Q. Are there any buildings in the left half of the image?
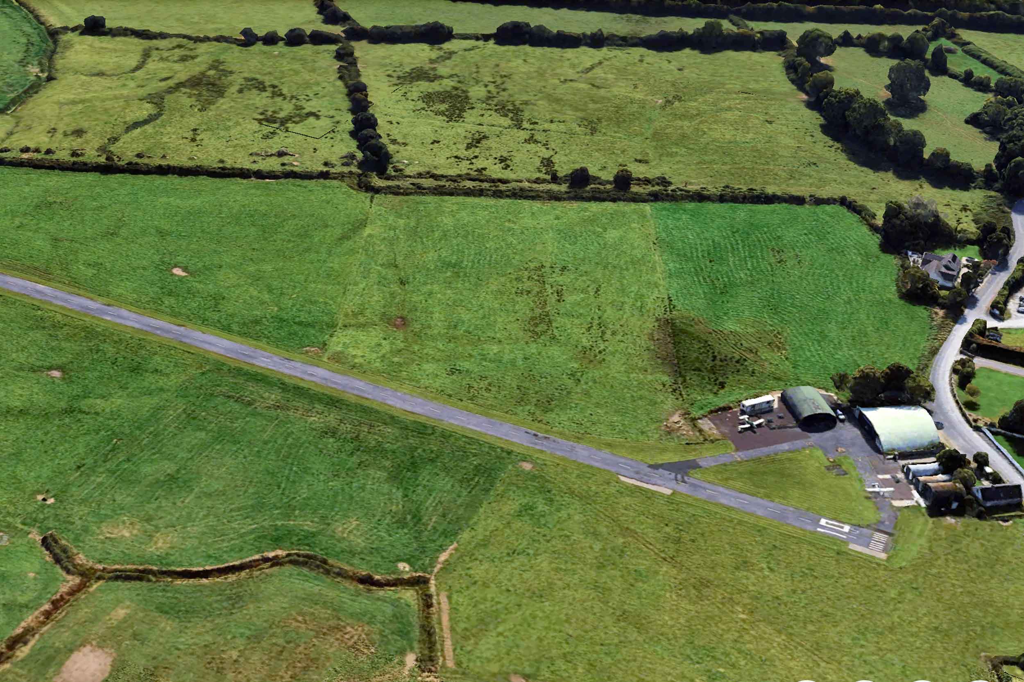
No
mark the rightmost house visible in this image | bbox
[976,482,1024,511]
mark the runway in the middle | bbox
[0,274,892,553]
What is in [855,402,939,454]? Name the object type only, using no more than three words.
hangar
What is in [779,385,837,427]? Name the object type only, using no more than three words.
hangar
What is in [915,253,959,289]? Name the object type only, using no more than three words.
house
